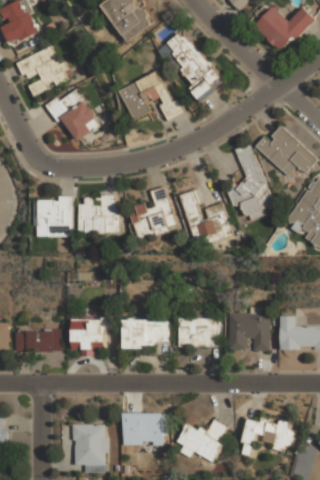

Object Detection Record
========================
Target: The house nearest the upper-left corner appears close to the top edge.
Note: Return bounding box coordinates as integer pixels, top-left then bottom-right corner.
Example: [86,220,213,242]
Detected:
[1,1,38,42]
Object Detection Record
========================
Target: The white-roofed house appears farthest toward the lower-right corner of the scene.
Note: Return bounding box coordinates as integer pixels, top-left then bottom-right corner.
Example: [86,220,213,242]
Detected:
[241,418,294,456]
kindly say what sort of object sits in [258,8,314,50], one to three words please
house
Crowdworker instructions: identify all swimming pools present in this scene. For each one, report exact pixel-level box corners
[270,232,288,252]
[290,0,302,9]
[156,26,178,42]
